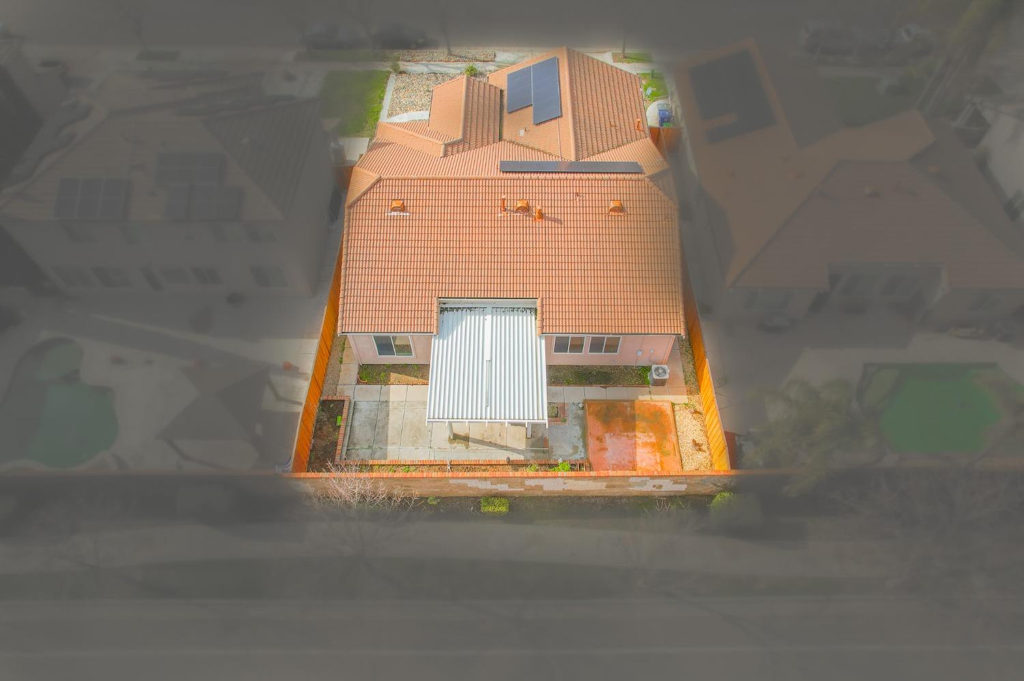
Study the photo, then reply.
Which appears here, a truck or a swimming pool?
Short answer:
swimming pool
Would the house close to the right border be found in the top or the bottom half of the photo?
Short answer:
top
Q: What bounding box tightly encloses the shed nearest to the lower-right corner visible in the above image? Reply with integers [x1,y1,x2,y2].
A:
[716,432,748,472]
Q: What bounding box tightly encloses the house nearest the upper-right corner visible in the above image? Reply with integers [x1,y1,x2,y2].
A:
[673,33,1024,322]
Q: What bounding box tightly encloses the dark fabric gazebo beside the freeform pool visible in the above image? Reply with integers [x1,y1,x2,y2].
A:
[157,367,284,460]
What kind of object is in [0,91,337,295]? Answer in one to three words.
house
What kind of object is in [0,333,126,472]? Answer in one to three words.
swimming pool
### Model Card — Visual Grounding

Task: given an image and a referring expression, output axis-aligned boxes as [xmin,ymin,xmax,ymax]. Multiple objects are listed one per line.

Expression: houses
[0,91,337,295]
[336,46,688,366]
[673,33,1024,322]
